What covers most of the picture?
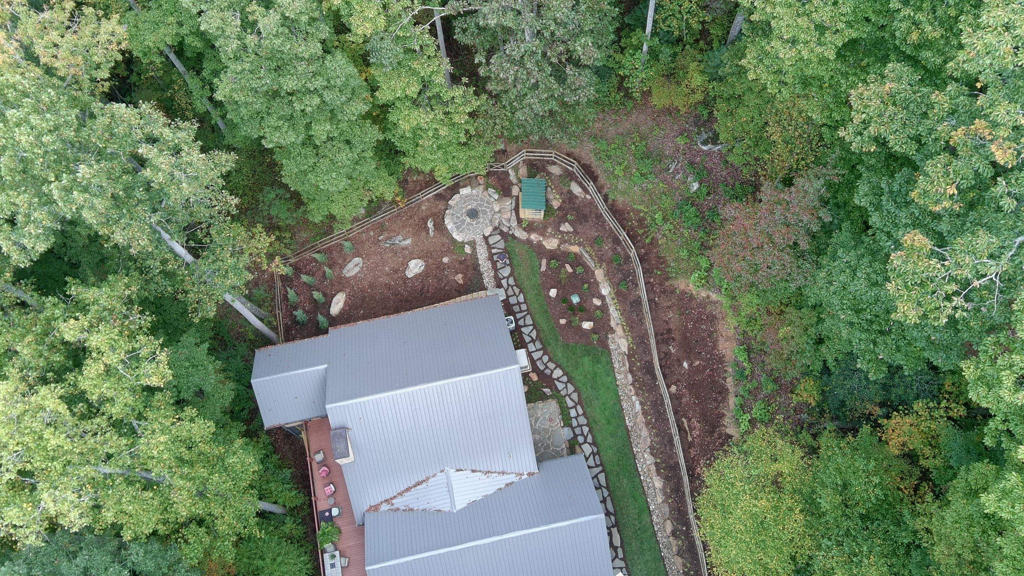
trees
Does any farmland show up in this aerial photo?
No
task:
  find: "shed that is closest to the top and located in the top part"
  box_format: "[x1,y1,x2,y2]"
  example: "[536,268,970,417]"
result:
[519,178,546,220]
